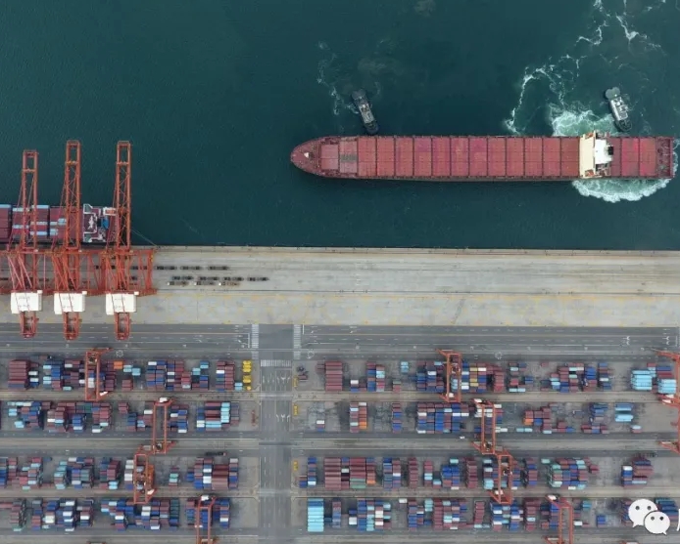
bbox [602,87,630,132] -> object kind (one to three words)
boat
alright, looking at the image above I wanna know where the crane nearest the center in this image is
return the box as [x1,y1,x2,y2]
[435,348,462,404]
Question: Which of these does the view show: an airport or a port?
port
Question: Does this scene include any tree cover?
No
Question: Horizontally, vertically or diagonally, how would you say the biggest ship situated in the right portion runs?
horizontally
